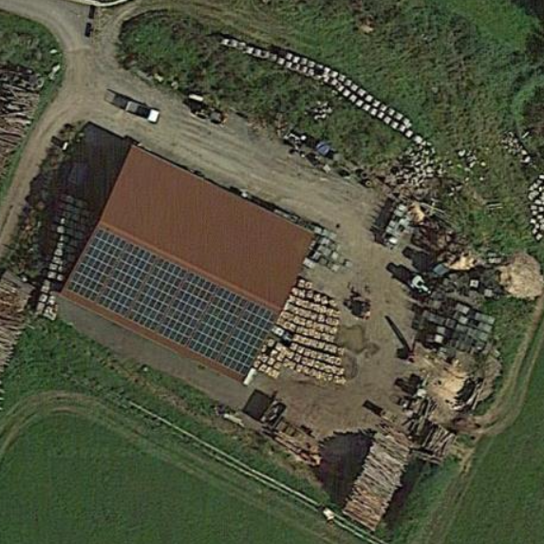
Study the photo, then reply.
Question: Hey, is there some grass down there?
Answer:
Yes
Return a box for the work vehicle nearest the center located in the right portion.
[347,288,368,317]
